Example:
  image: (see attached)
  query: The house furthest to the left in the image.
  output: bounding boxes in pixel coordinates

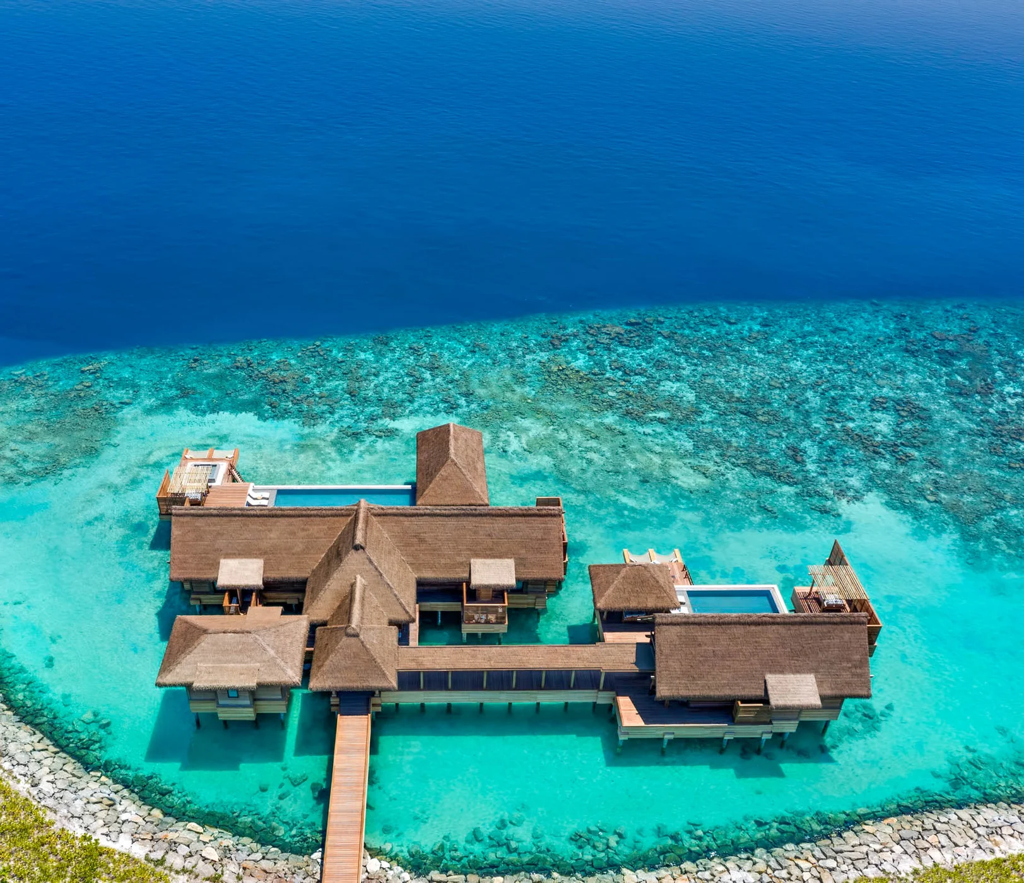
[155,609,321,748]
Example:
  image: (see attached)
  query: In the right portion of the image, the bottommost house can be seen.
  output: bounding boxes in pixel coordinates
[606,610,876,764]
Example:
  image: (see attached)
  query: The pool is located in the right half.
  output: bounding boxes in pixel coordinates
[674,586,793,613]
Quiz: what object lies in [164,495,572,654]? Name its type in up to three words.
house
